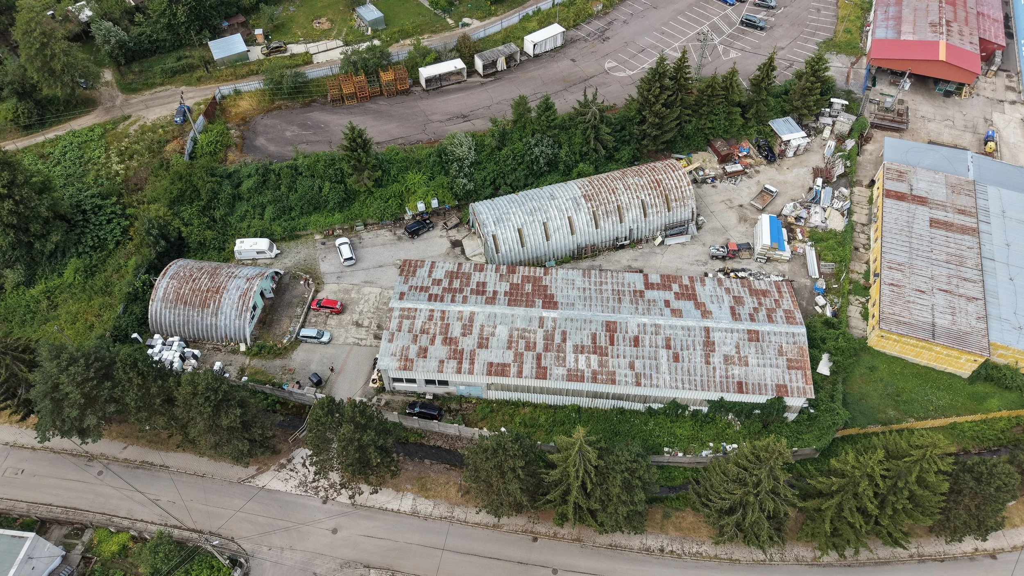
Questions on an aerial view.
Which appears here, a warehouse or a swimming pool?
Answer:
warehouse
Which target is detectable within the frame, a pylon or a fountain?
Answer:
pylon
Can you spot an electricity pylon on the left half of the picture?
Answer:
No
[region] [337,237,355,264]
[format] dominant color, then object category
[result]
white car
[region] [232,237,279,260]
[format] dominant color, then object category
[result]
white camper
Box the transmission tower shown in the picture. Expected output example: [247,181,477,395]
[690,21,718,86]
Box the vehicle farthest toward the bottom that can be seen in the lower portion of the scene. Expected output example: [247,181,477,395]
[407,404,445,423]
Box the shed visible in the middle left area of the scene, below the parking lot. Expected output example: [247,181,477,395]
[148,256,282,346]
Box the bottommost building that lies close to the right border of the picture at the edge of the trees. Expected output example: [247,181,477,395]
[868,136,1024,382]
